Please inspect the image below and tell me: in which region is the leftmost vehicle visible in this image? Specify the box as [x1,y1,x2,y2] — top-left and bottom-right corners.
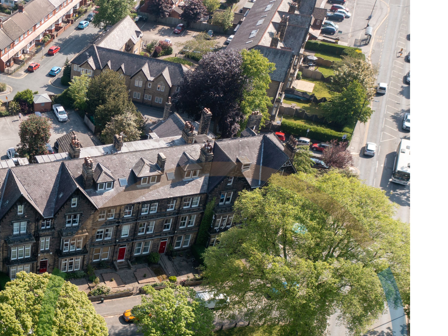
[5,148,20,166]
